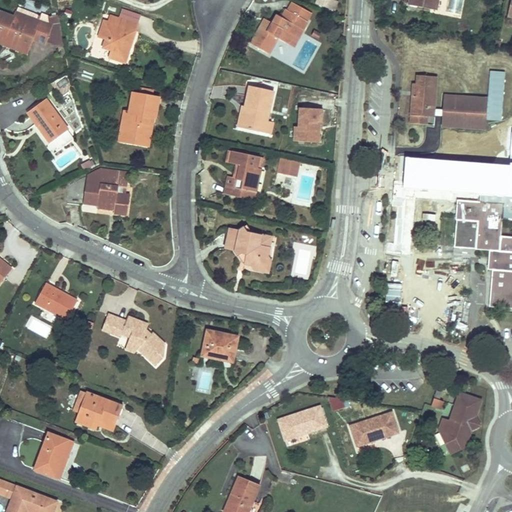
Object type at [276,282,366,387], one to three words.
roundabout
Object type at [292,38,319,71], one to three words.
swimming pool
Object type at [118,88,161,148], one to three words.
house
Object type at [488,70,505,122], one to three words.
building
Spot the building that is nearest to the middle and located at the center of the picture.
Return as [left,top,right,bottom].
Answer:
[224,227,278,274]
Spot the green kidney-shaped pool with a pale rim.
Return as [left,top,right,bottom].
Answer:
[75,24,93,50]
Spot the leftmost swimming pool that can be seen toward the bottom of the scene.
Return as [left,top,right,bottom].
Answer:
[196,370,212,392]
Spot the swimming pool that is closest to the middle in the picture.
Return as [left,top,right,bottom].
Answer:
[292,244,316,276]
